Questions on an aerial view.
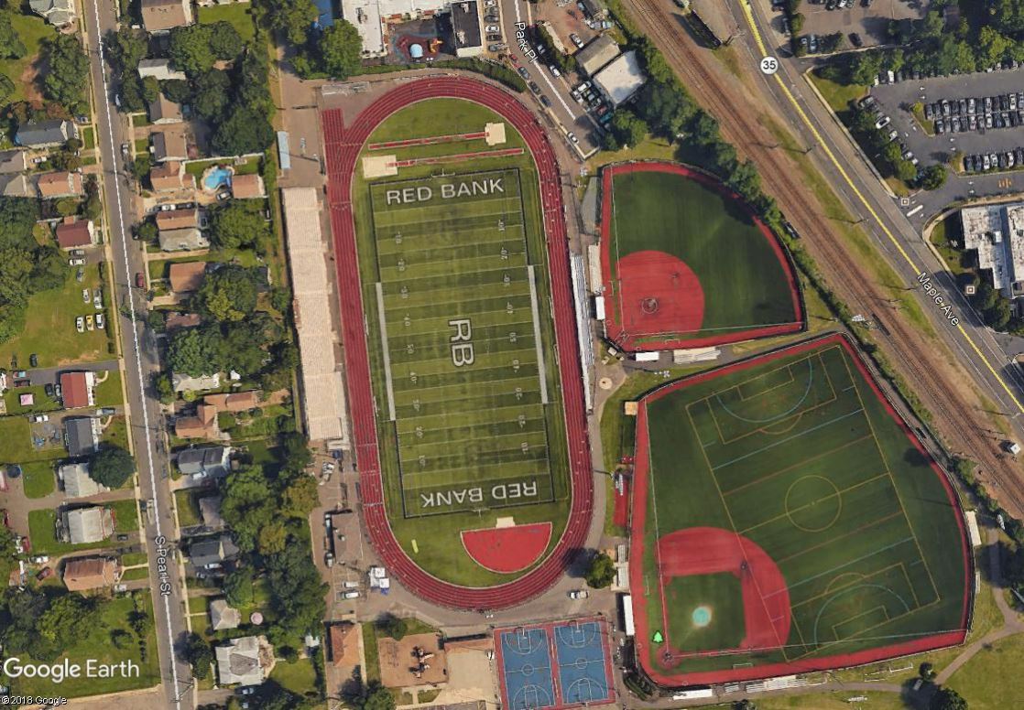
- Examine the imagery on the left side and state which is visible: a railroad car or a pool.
pool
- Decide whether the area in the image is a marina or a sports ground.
sports ground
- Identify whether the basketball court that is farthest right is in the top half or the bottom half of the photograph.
bottom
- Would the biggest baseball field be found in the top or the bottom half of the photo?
bottom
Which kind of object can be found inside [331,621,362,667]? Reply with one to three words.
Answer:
shed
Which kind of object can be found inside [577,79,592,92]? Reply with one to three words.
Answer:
vehicle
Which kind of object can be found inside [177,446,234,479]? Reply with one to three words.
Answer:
house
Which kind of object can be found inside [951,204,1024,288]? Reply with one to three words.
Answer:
building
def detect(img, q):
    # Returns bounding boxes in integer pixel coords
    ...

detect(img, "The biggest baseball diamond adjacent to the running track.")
[629,332,975,688]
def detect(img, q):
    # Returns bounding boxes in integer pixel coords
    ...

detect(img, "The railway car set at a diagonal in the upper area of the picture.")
[692,6,725,45]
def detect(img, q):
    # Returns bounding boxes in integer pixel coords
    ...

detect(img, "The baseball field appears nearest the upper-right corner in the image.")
[601,162,806,352]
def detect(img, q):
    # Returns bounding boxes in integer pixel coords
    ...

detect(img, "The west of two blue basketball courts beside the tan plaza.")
[493,625,559,710]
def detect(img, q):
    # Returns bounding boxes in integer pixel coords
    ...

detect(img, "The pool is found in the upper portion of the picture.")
[202,166,234,190]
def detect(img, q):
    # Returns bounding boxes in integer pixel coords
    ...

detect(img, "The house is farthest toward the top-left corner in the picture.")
[32,0,87,29]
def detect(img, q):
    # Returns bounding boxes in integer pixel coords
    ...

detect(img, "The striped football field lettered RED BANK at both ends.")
[366,165,560,520]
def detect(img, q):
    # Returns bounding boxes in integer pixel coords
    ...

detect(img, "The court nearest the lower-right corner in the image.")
[551,617,616,710]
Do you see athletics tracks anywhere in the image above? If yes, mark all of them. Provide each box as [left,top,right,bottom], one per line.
[322,74,596,611]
